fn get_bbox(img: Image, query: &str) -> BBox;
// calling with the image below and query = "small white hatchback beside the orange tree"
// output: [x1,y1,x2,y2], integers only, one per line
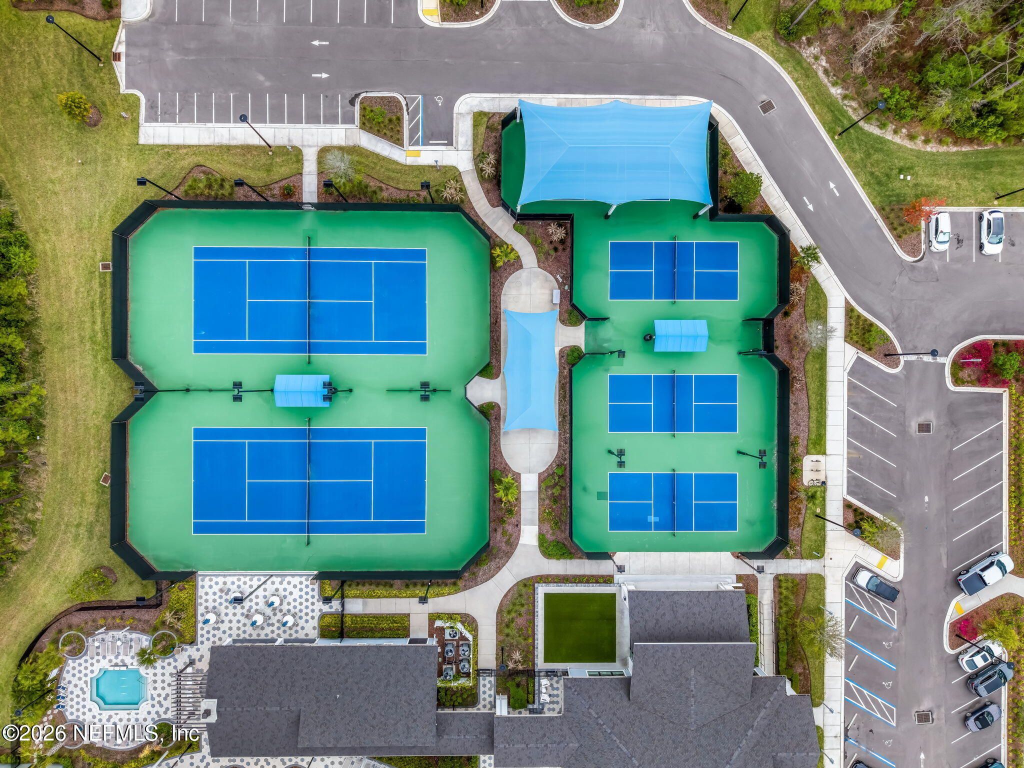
[926,213,950,252]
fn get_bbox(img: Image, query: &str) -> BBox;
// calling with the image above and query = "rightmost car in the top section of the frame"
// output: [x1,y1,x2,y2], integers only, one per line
[978,211,1004,254]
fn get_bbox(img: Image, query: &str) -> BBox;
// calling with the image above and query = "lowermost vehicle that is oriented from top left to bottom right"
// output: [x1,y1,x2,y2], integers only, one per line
[852,567,903,605]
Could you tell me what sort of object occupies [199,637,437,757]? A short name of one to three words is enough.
building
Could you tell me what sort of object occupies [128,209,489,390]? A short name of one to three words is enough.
tennis court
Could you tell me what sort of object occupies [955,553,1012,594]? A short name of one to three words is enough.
truck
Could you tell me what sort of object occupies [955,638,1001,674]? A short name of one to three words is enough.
car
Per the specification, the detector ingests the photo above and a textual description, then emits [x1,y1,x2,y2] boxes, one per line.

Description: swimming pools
[87,666,152,714]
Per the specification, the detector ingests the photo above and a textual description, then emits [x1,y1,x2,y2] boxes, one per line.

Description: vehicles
[978,211,1004,254]
[962,699,1001,731]
[975,756,1006,768]
[926,213,950,252]
[955,553,1012,594]
[955,638,1001,674]
[852,567,903,605]
[965,661,1012,698]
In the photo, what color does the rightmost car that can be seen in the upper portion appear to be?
white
